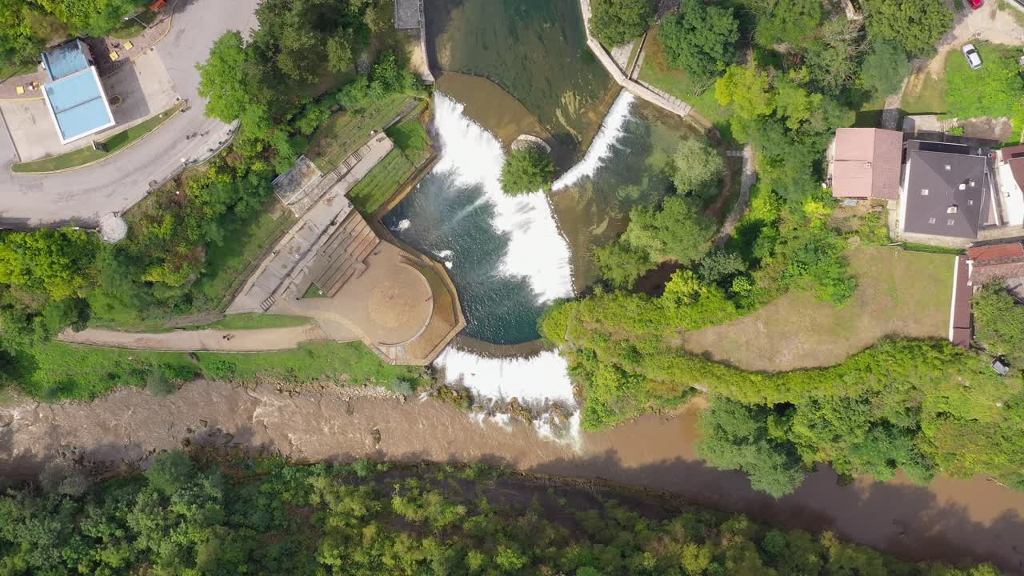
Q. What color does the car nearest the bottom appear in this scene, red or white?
white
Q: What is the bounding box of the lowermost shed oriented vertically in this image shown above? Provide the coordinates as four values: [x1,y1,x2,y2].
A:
[946,255,972,347]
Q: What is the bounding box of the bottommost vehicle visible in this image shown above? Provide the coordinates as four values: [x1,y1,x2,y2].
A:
[957,44,984,70]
